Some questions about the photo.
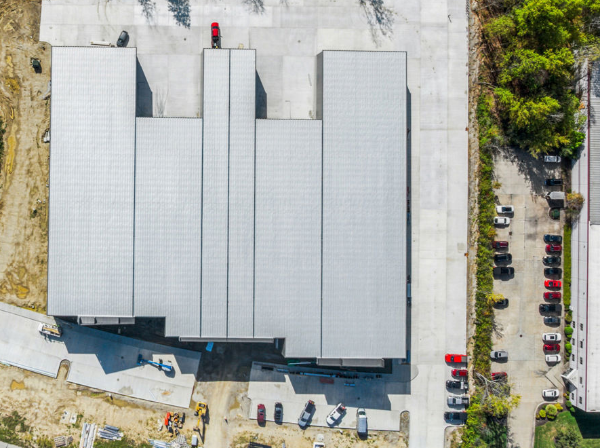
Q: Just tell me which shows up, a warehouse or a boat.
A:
warehouse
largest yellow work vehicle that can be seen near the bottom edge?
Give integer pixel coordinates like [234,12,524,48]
[193,403,207,437]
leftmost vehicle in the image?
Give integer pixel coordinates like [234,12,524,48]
[39,324,61,337]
